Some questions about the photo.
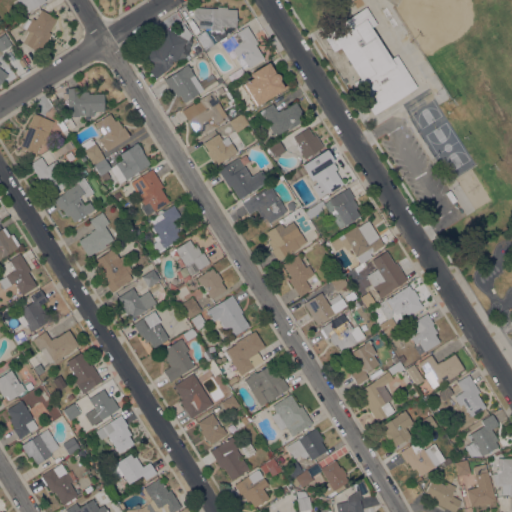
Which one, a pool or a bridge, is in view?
pool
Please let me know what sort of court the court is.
basketball court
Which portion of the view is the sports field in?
top right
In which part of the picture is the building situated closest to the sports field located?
top right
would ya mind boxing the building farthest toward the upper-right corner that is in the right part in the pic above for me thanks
[328,6,418,113]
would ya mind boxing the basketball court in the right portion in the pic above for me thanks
[404,89,476,176]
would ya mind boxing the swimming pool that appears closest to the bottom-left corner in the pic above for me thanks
[54,420,66,444]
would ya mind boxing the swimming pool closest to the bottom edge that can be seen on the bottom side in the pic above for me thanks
[122,494,146,510]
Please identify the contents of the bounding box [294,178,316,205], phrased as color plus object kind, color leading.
blue swimming pool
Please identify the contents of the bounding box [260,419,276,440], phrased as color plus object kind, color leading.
blue swimming pool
